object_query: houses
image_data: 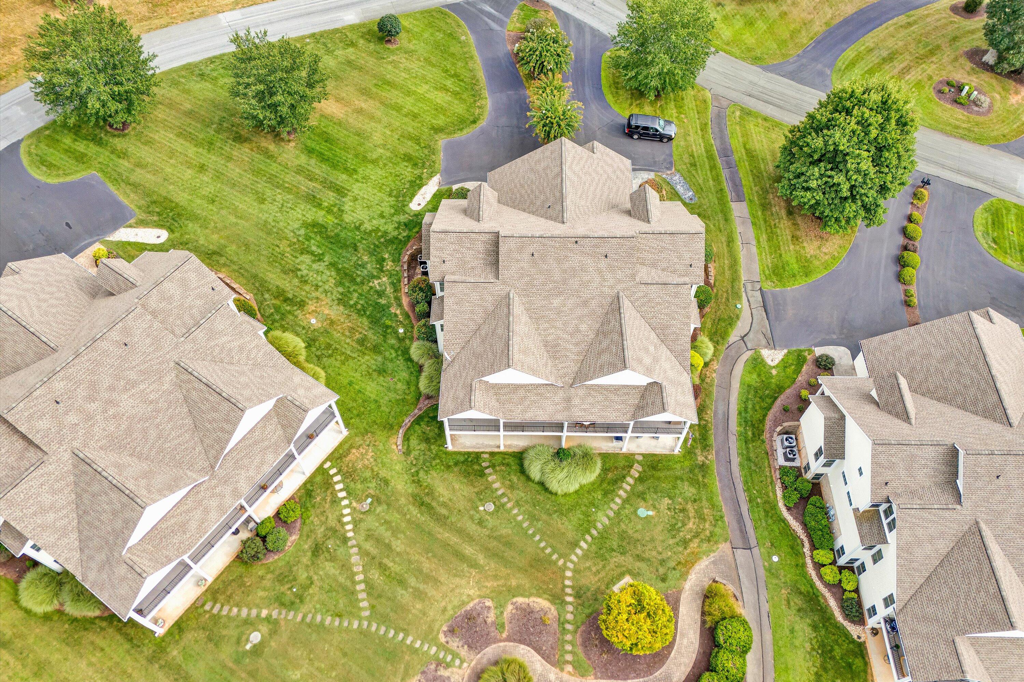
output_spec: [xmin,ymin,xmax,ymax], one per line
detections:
[0,249,352,641]
[421,137,706,456]
[796,306,1024,682]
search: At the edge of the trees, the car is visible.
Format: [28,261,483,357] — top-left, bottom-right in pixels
[623,113,677,144]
